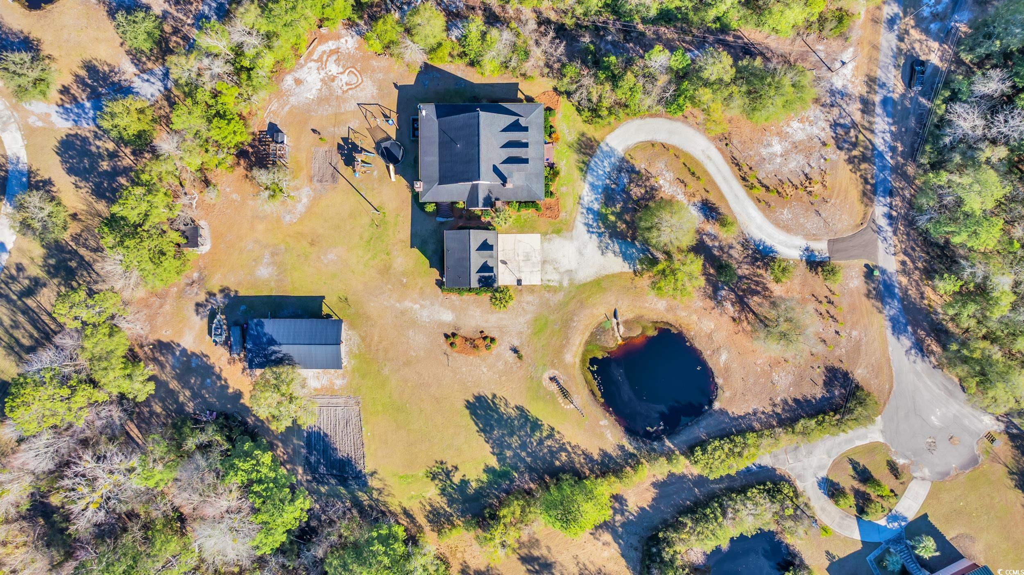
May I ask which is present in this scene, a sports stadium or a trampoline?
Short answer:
trampoline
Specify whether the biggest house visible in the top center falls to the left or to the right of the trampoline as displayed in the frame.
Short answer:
to the right of it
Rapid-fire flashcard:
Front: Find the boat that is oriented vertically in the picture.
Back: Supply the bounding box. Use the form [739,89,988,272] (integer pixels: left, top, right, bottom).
[206,315,222,348]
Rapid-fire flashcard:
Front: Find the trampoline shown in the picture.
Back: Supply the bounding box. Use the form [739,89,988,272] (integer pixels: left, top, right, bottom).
[374,134,402,164]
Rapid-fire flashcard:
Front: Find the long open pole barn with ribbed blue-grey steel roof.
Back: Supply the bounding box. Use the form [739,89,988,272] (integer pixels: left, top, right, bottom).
[242,319,346,369]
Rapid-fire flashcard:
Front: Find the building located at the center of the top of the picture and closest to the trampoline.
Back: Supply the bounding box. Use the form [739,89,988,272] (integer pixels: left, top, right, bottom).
[409,102,545,210]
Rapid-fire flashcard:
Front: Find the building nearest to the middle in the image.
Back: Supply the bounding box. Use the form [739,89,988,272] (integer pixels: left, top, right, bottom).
[444,228,498,288]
